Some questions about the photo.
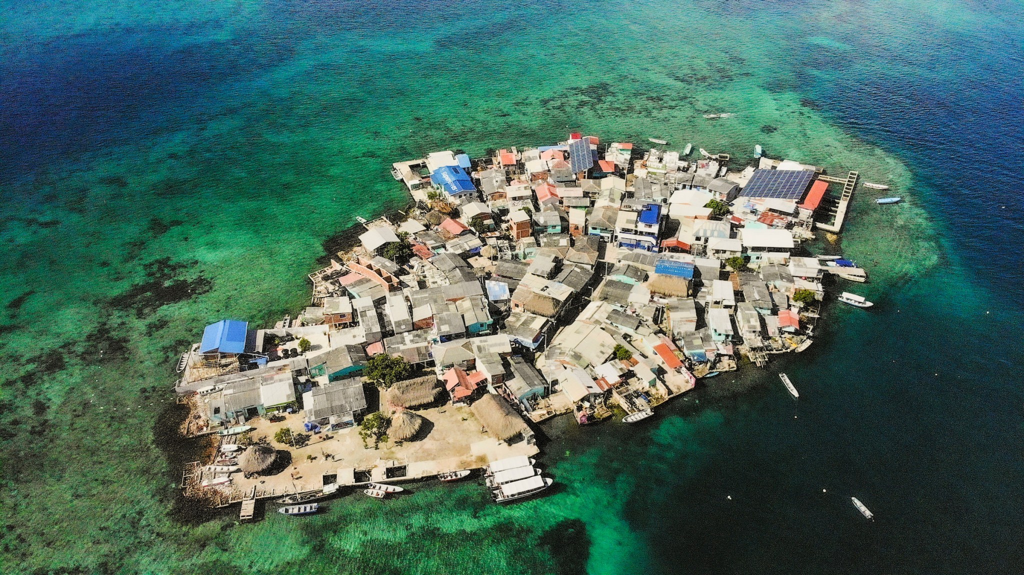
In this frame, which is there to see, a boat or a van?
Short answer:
boat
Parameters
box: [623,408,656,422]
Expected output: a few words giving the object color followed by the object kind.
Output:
white boat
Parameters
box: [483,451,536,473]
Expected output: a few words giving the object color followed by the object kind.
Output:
white boat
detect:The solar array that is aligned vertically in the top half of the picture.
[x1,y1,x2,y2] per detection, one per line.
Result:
[569,137,593,186]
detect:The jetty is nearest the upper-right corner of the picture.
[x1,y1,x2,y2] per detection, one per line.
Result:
[815,170,858,233]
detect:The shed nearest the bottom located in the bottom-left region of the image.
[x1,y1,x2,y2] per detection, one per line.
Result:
[235,444,278,478]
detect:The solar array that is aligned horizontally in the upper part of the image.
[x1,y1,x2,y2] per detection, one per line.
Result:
[739,169,815,208]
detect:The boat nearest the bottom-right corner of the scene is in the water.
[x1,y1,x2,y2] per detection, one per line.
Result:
[852,495,875,519]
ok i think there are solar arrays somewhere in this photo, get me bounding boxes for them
[739,169,815,208]
[569,137,593,186]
